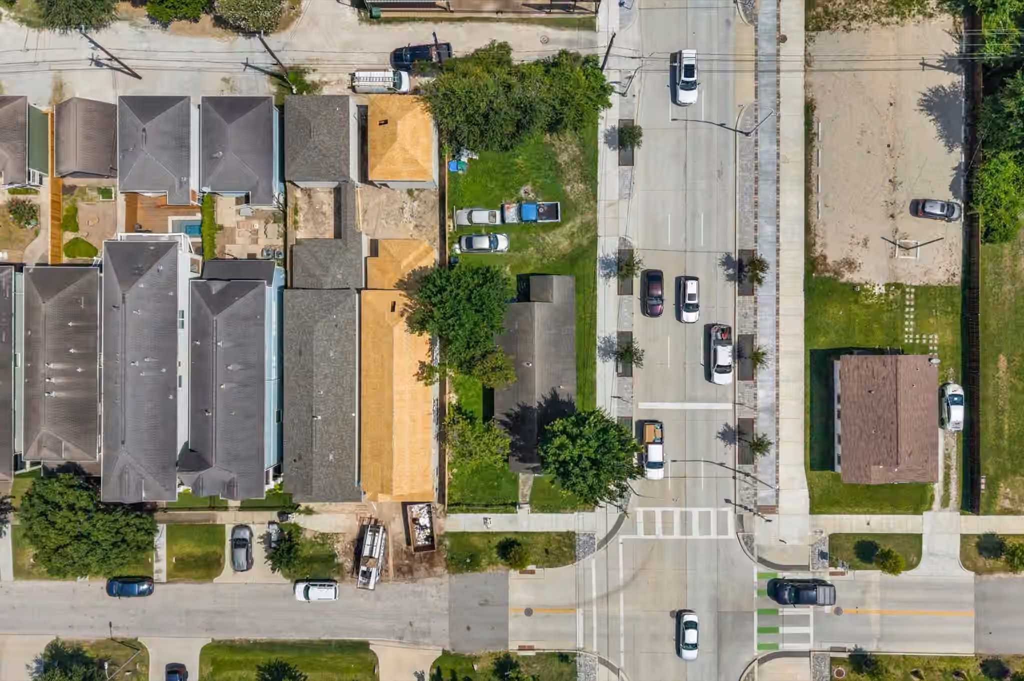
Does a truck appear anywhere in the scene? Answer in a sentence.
Yes, there is a truck in the image.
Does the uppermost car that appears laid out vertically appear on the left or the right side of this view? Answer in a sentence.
The uppermost car that appears laid out vertically is on the right side of the image.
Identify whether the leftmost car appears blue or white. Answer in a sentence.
In this view, the leftmost car is blue.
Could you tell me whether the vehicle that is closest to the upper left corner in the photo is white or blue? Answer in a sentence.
In this view, the vehicle that is closest to the upper left corner is white.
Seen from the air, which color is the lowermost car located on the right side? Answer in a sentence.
The color of the lowermost car located on the right side is white.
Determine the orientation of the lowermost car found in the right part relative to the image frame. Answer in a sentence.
The lowermost car found in the right part has been laid out vertically relative to the frame.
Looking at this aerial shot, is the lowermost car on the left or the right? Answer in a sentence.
The lowermost car appears in the left half of the scene.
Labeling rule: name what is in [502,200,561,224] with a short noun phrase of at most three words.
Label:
truck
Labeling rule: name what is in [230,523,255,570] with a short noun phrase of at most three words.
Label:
car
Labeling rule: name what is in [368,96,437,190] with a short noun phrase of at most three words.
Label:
building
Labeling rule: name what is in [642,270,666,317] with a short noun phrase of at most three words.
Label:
car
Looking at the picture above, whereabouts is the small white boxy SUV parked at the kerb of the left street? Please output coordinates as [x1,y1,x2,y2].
[296,579,339,603]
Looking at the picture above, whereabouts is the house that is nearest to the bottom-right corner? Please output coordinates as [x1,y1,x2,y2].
[830,355,944,486]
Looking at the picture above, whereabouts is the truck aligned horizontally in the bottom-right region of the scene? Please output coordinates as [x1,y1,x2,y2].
[769,578,834,606]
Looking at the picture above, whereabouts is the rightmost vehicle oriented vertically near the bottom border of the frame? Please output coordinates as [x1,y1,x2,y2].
[678,612,701,661]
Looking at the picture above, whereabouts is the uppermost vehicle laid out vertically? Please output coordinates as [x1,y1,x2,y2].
[675,52,700,104]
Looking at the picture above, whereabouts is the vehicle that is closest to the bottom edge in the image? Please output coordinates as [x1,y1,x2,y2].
[166,661,190,681]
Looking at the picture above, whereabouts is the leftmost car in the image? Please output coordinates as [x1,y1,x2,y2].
[108,575,156,598]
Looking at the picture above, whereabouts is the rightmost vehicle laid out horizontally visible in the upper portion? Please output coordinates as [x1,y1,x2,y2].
[910,199,957,223]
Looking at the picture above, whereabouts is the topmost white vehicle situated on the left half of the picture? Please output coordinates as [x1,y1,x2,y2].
[350,68,409,94]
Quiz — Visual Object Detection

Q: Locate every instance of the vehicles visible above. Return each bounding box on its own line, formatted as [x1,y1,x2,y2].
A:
[938,385,964,431]
[456,205,501,228]
[230,523,255,570]
[350,68,409,94]
[678,277,702,323]
[910,199,957,223]
[502,200,561,224]
[642,270,666,317]
[296,579,339,603]
[675,52,700,104]
[769,578,834,606]
[709,323,735,384]
[678,612,701,661]
[642,420,667,480]
[353,522,387,596]
[393,43,453,71]
[459,231,509,255]
[166,661,190,681]
[108,575,156,598]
